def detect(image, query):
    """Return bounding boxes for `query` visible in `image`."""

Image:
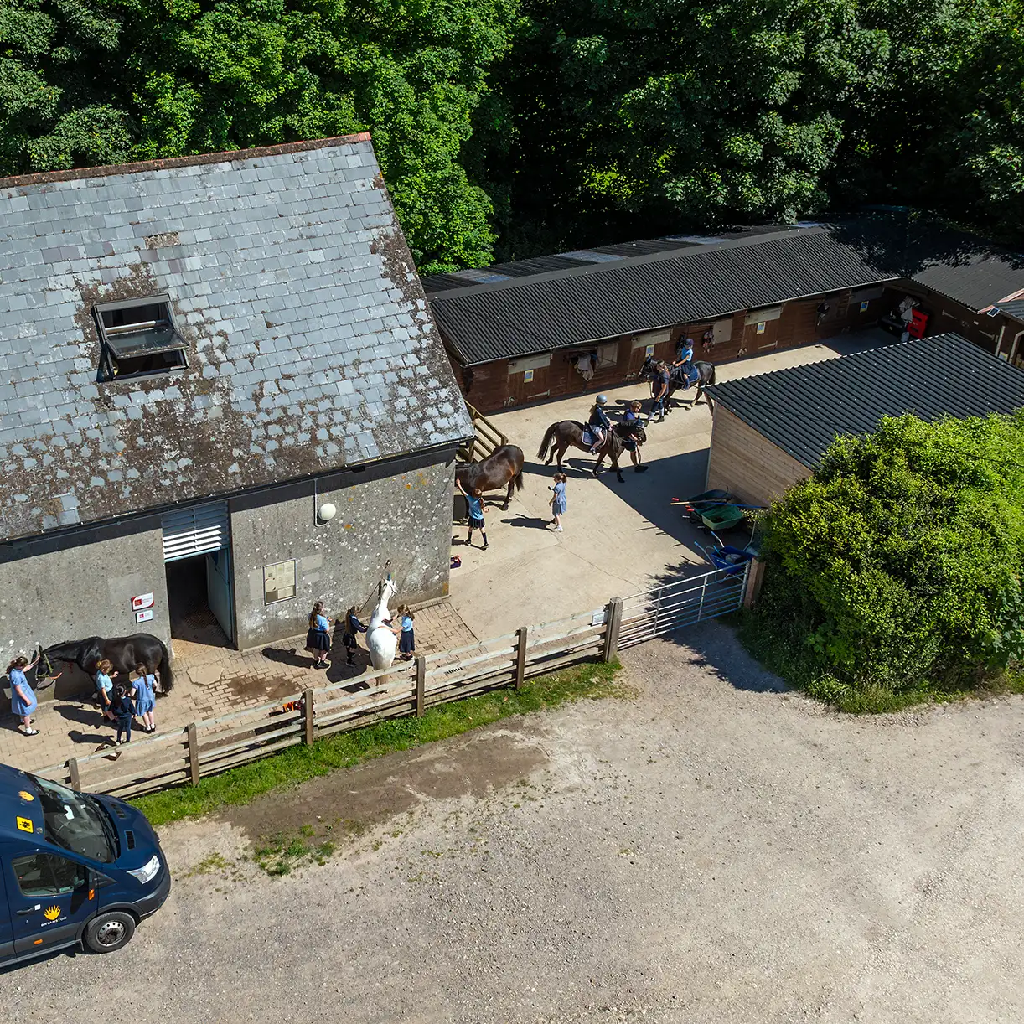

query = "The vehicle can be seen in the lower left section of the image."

[0,759,174,963]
